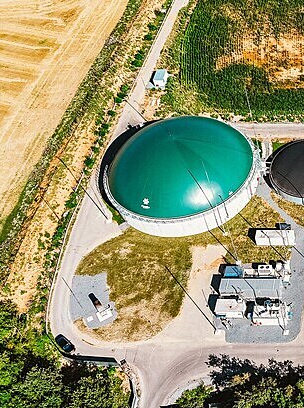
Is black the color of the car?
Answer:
Yes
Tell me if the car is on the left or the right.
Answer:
left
